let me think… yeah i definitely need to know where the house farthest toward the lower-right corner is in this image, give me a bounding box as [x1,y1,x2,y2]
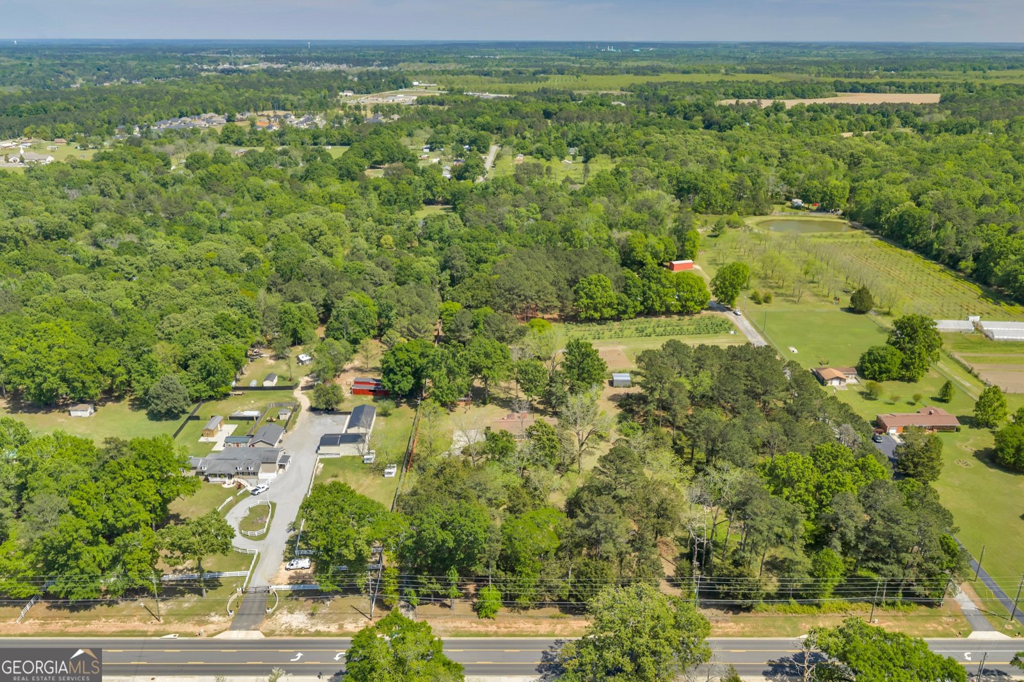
[871,398,961,436]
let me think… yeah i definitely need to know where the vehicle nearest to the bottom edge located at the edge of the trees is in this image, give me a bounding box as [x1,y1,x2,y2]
[285,559,310,571]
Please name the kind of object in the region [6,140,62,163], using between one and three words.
building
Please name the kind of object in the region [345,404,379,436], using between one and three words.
building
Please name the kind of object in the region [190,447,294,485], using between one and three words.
house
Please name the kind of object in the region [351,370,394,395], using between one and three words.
barn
